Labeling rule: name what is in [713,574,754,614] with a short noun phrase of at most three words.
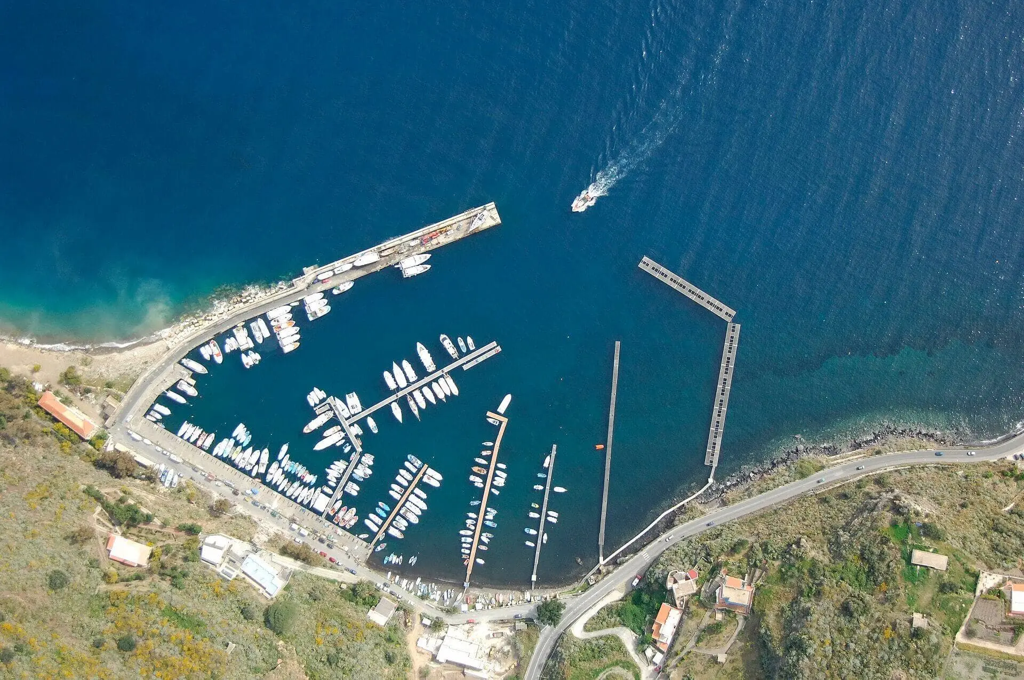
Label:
house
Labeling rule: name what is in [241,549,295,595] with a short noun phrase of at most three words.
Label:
house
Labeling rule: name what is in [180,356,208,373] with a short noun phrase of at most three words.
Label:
boat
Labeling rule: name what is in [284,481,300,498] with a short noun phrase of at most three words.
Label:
boat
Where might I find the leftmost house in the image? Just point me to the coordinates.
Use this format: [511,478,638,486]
[38,391,99,439]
